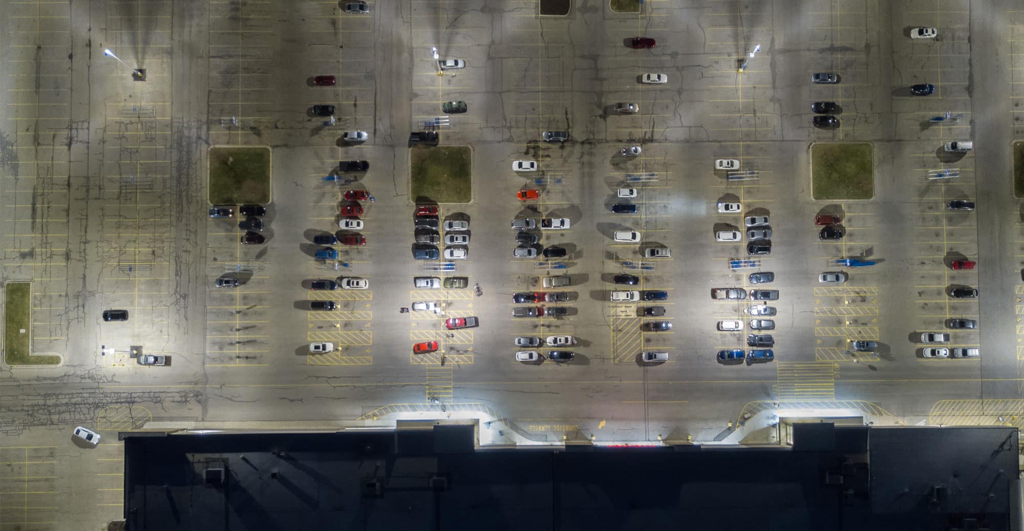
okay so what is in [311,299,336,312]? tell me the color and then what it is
black vehicle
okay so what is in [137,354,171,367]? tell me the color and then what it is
gray vehicle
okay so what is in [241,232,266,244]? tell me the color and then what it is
black vehicle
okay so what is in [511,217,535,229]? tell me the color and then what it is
gray vehicle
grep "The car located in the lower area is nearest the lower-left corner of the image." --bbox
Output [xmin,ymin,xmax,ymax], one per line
[72,428,102,446]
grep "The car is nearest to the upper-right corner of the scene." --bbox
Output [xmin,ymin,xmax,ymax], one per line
[910,27,937,39]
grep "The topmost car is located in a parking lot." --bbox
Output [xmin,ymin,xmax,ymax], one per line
[347,1,369,13]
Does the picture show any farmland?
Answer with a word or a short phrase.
No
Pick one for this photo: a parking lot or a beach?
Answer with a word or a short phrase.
parking lot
